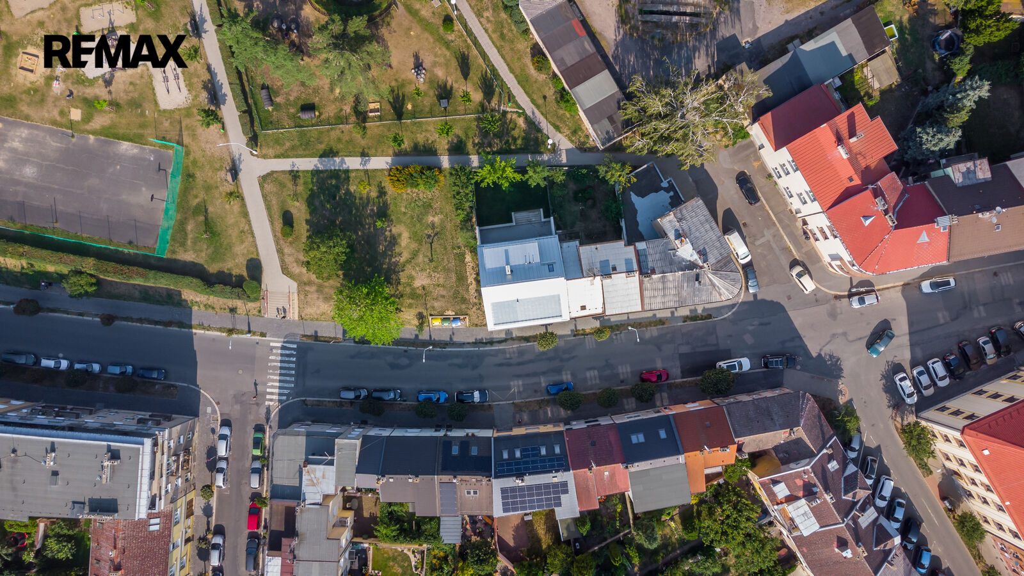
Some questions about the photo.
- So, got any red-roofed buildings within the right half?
Yes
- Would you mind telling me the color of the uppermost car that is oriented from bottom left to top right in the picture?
blue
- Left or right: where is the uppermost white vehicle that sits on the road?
right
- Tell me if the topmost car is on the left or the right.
right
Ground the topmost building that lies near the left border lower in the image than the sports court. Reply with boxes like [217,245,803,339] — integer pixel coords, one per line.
[0,397,199,521]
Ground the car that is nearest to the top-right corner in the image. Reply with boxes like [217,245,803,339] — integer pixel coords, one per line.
[918,277,955,293]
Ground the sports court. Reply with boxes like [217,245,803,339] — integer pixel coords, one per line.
[0,116,173,246]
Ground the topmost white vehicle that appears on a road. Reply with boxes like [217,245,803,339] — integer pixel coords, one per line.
[724,227,750,265]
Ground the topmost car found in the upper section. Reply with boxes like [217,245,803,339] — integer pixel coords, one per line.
[735,171,760,205]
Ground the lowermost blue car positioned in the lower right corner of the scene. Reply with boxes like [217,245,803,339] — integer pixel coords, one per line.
[914,544,932,574]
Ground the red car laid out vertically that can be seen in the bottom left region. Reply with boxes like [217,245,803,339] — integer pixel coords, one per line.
[247,500,261,531]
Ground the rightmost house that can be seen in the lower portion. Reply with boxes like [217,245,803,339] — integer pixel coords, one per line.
[917,362,1024,576]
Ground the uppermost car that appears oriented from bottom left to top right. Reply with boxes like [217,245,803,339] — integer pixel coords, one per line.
[865,329,897,357]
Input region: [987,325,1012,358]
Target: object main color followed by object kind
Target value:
black car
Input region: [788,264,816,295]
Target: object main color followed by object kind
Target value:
white car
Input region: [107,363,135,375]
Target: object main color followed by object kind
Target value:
blue vehicle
